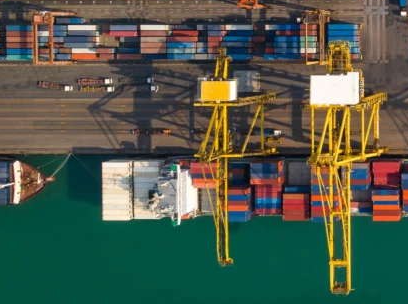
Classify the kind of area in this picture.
port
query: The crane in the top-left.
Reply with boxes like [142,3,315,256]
[31,8,81,63]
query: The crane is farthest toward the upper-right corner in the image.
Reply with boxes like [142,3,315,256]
[302,5,336,65]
